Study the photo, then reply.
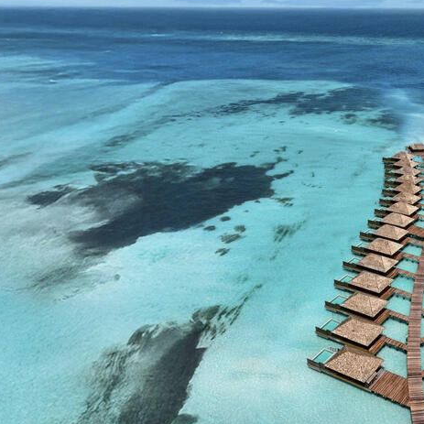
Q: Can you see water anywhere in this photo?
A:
Yes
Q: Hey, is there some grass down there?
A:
No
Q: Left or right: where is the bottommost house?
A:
right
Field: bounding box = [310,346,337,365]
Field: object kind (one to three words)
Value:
swimming pool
